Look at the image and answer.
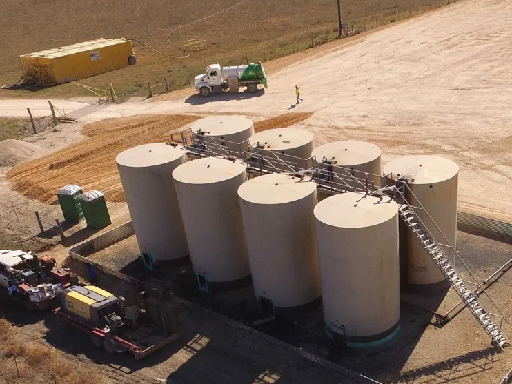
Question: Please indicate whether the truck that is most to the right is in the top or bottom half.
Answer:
top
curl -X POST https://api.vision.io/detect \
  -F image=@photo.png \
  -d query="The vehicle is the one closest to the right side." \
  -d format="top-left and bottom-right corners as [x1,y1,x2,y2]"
[190,57,274,96]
